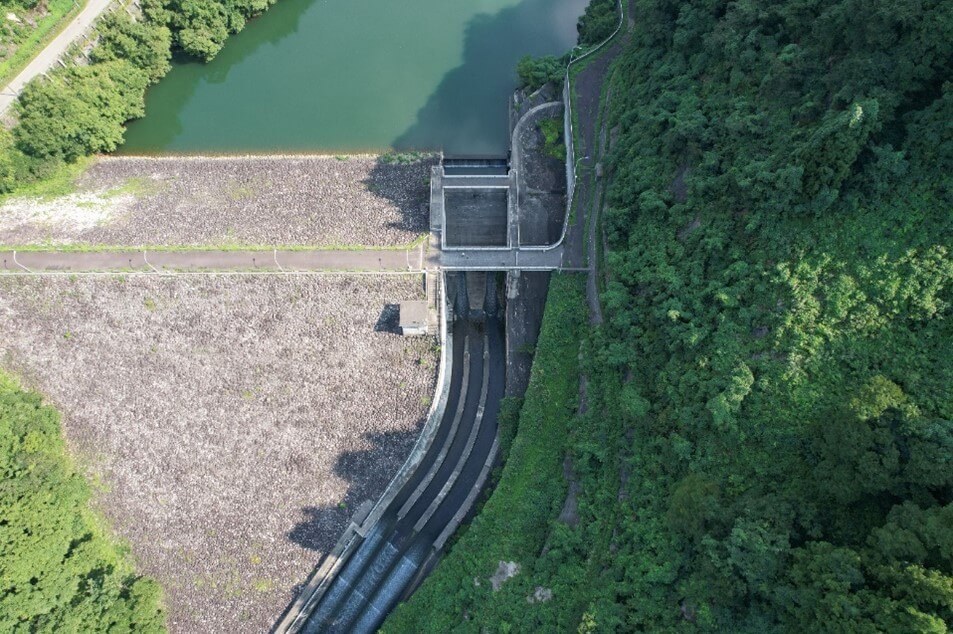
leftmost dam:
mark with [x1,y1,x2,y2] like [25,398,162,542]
[0,151,441,634]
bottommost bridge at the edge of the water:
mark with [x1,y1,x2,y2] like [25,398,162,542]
[438,243,591,274]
